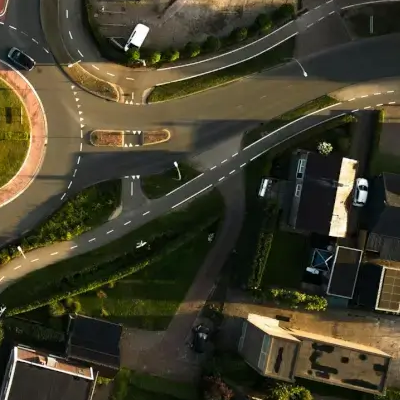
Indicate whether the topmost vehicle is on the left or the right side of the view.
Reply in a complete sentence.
The topmost vehicle sits on the left side.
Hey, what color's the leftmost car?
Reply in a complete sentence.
From above, the leftmost car appears black.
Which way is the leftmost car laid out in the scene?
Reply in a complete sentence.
In this picture, the leftmost car lies on a diagonal.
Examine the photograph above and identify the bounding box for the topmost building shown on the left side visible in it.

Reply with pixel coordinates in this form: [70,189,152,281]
[63,310,122,367]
